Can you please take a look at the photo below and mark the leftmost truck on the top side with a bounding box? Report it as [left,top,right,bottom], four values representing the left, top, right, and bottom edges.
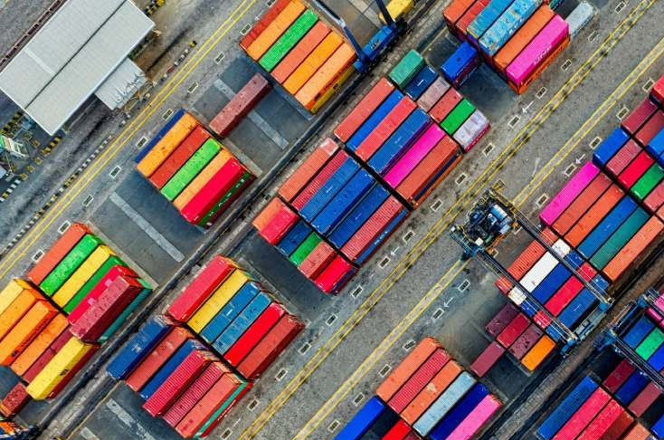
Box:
[0,137,25,164]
